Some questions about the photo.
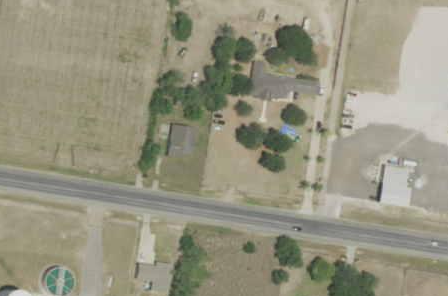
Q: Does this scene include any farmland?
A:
Yes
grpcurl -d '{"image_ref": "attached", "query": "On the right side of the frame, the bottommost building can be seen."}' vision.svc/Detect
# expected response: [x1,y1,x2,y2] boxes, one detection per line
[376,166,412,206]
